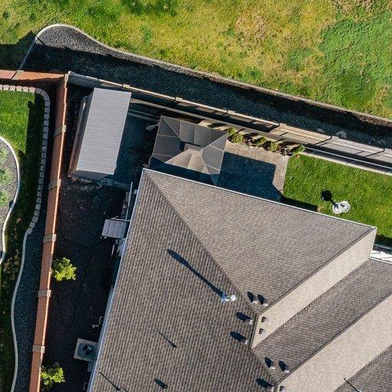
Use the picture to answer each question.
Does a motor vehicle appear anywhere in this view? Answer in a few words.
No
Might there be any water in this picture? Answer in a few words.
No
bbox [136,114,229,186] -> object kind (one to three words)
gazebo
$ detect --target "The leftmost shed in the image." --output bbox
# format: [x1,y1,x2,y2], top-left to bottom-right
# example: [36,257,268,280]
[63,88,131,176]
